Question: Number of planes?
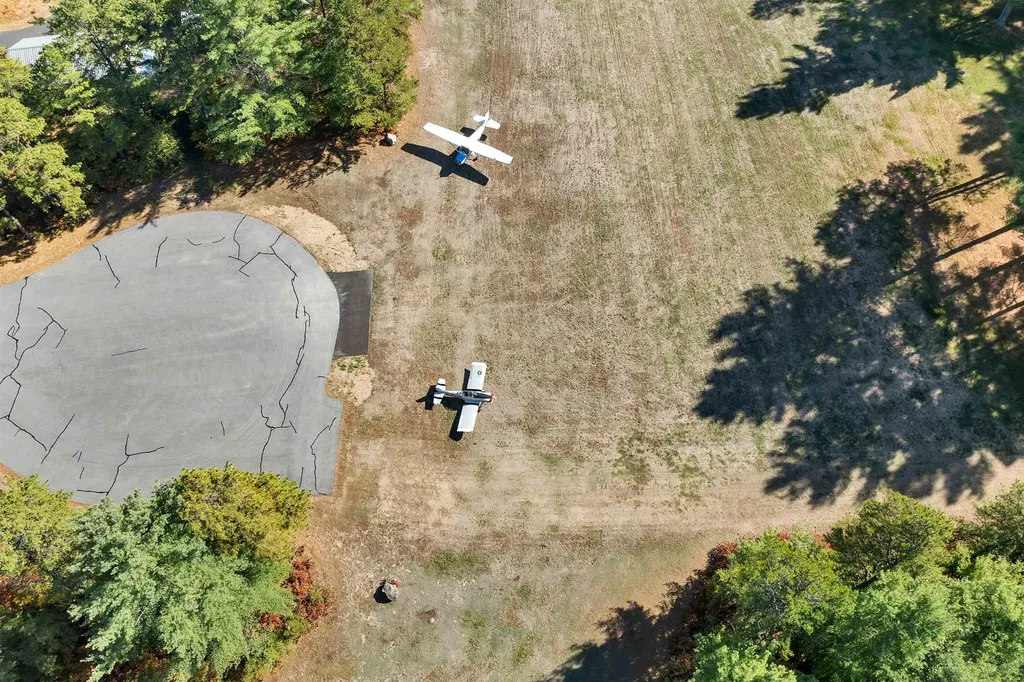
2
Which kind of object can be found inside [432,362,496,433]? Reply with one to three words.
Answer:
airplane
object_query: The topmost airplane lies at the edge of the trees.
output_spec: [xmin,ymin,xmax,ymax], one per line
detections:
[423,109,513,168]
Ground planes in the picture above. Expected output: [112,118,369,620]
[423,109,513,168]
[432,362,496,433]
